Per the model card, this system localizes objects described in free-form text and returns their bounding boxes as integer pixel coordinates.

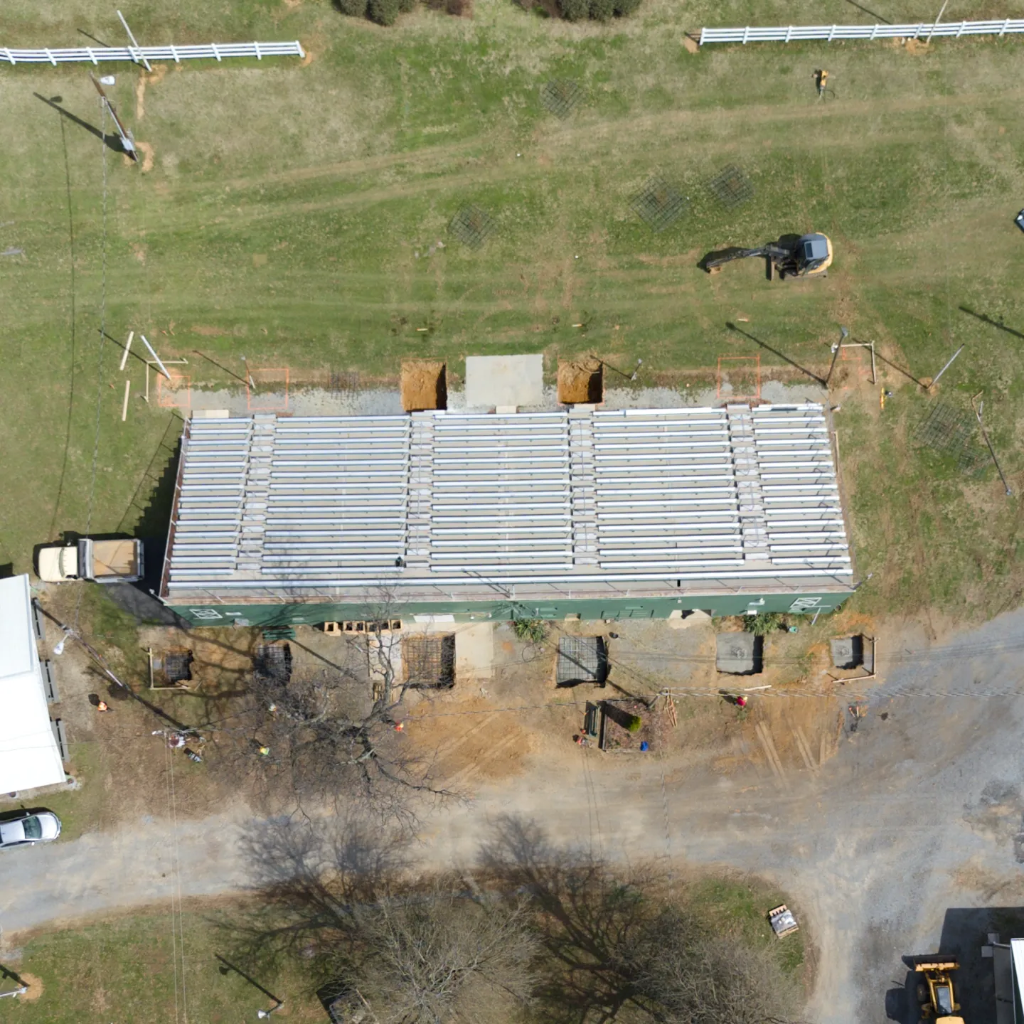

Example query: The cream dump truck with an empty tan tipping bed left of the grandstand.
[39,535,147,585]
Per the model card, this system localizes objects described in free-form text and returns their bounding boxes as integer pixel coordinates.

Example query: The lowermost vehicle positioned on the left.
[0,809,63,852]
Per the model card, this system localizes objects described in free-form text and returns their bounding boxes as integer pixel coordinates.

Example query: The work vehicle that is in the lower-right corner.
[918,956,967,1024]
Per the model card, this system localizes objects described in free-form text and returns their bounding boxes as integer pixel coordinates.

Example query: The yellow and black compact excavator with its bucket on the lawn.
[707,227,833,278]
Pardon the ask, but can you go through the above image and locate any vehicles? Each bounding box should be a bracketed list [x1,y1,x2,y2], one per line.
[39,535,147,585]
[918,956,967,1024]
[707,227,833,278]
[0,809,63,852]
